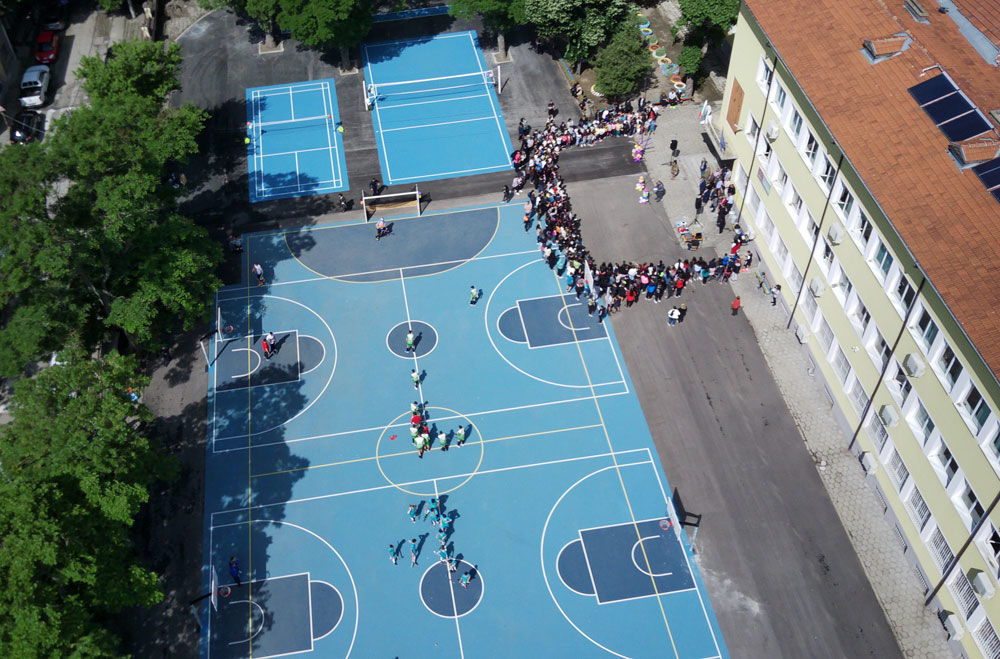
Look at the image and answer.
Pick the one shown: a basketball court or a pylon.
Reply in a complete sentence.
The one in the frame is a basketball court.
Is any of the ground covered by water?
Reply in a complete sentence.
No, the scene doesn't show any water.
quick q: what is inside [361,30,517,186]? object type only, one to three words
sports court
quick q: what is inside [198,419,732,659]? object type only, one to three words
basketball court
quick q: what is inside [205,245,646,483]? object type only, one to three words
basketball court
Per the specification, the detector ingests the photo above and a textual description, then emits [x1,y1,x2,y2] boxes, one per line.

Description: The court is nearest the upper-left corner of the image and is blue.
[246,78,350,203]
